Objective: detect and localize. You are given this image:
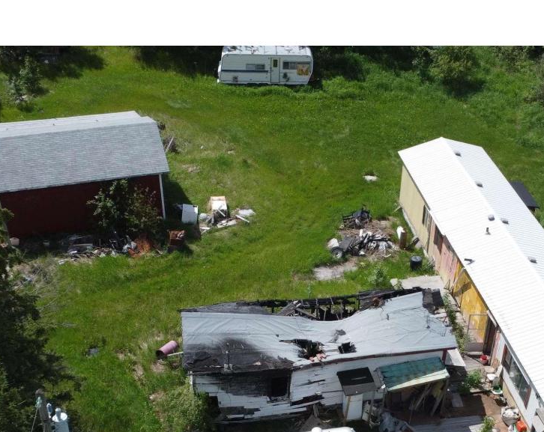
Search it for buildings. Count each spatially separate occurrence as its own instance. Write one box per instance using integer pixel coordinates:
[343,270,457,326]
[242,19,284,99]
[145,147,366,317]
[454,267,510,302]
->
[0,111,171,242]
[181,287,457,421]
[398,137,544,432]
